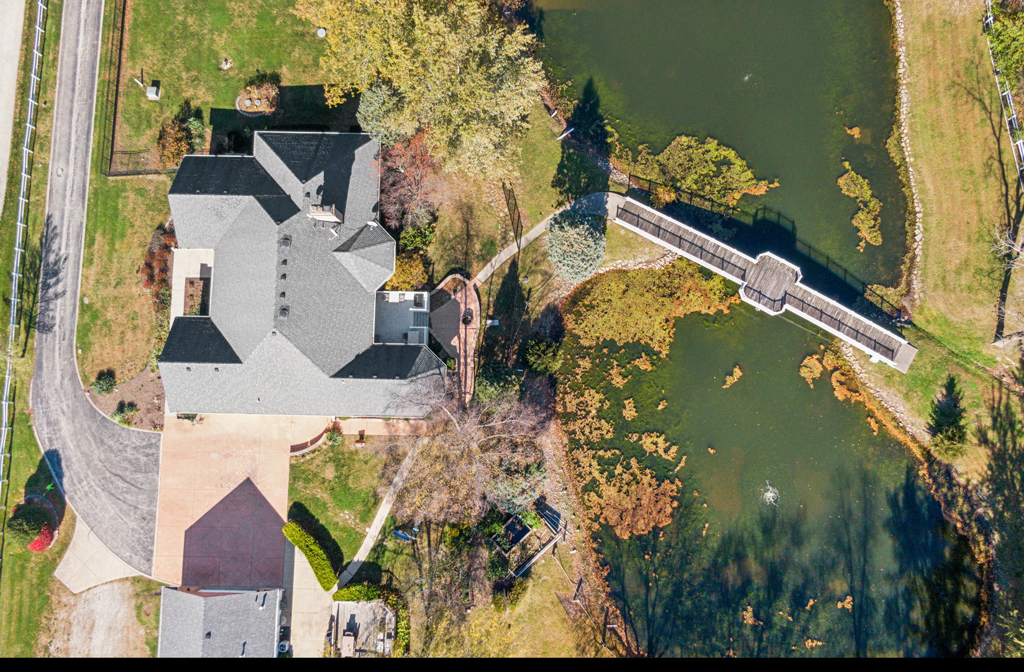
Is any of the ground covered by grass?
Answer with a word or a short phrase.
Yes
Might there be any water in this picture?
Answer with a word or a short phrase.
Yes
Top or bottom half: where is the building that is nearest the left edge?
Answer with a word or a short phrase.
bottom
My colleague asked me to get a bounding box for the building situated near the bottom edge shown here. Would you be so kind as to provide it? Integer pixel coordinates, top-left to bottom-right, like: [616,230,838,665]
[157,581,288,672]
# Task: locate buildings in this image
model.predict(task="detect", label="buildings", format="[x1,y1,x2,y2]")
[158,131,448,418]
[157,581,288,672]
